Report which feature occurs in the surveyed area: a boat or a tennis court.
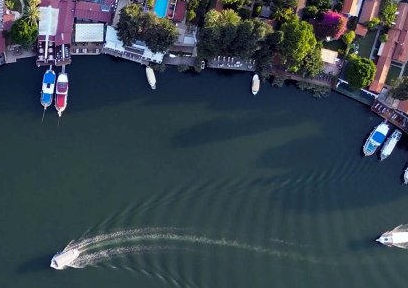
boat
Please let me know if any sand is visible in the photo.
No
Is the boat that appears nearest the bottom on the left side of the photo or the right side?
left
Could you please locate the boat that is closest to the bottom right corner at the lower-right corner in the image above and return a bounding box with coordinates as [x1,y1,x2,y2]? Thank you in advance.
[374,231,408,244]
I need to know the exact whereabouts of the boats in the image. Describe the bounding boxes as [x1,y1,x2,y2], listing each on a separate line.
[379,130,400,162]
[145,66,156,90]
[43,69,55,111]
[56,72,68,116]
[363,121,388,157]
[252,74,260,95]
[49,247,83,267]
[374,231,408,244]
